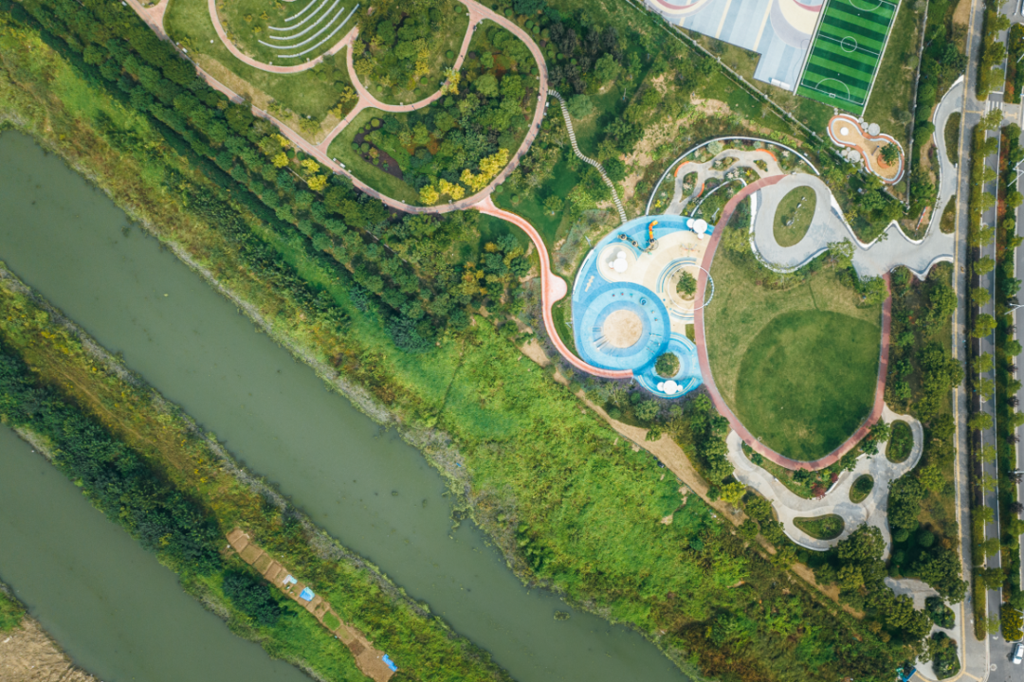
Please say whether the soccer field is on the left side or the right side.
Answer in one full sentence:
The soccer field sits on the right side.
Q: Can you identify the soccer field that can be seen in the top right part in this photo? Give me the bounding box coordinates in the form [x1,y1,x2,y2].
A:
[792,0,900,118]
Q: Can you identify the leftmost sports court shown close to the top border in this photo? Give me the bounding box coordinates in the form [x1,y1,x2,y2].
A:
[646,0,826,91]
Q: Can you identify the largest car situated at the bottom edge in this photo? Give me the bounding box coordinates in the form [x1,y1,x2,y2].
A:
[1010,643,1023,664]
